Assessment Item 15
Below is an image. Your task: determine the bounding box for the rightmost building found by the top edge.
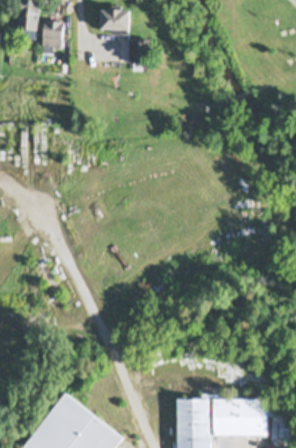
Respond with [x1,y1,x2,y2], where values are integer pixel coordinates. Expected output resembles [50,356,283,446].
[100,6,130,36]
